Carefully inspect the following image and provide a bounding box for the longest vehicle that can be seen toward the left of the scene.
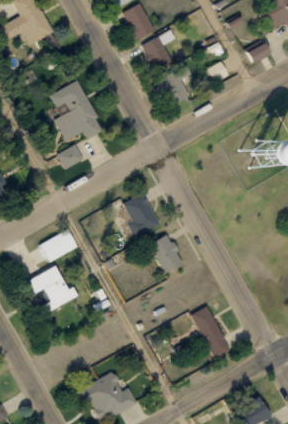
[68,176,88,190]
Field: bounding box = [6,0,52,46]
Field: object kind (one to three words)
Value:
house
